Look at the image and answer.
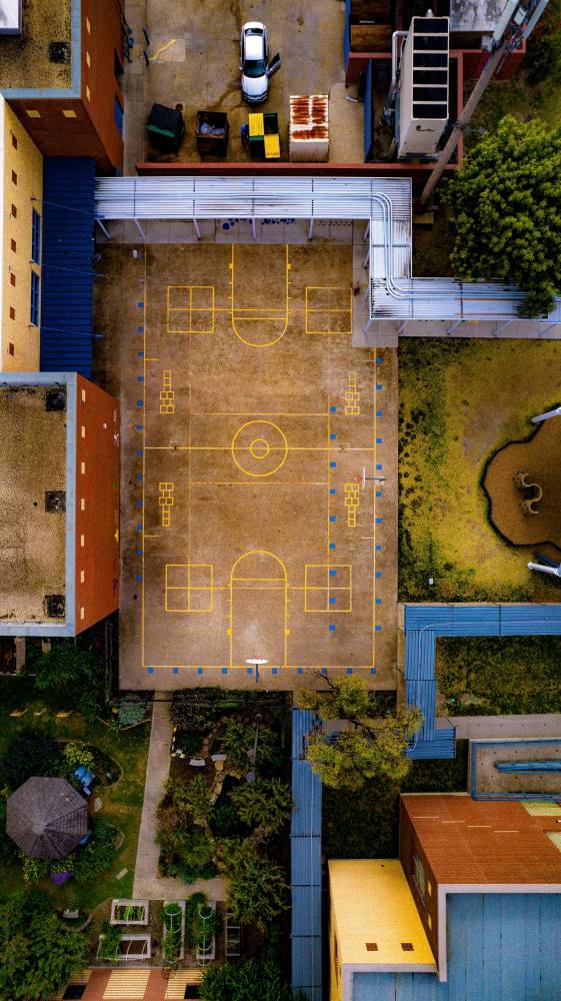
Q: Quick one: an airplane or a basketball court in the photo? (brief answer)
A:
basketball court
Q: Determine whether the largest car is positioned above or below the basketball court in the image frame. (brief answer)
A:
above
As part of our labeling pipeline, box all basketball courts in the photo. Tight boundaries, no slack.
[96,243,398,691]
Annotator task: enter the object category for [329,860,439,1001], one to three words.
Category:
building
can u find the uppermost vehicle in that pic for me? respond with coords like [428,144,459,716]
[237,22,284,105]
